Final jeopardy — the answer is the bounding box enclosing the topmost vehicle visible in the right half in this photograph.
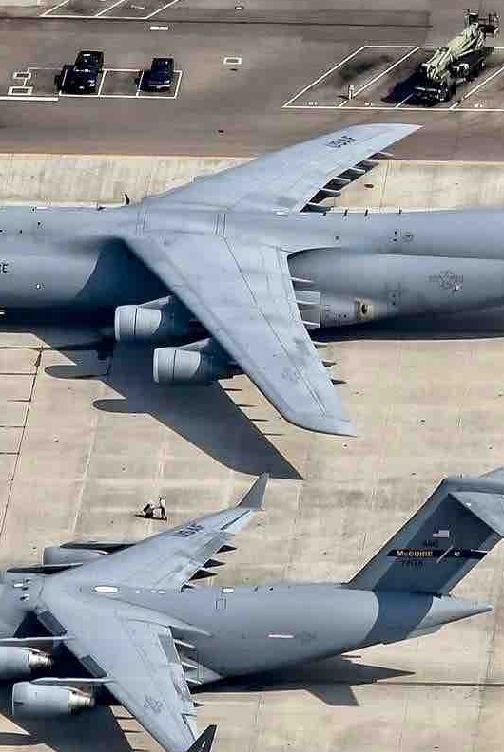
[420,4,498,105]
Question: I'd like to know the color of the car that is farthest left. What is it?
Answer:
black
